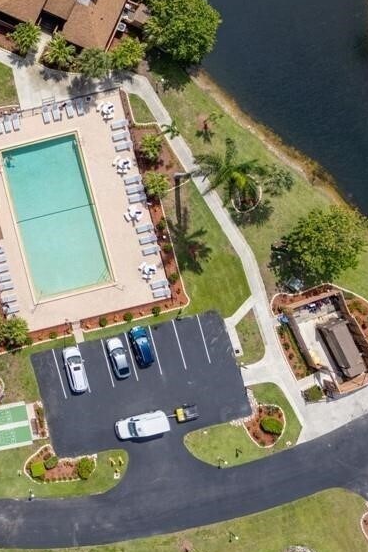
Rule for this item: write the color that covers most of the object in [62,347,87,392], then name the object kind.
white car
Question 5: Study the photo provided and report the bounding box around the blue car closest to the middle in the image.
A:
[129,326,154,366]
